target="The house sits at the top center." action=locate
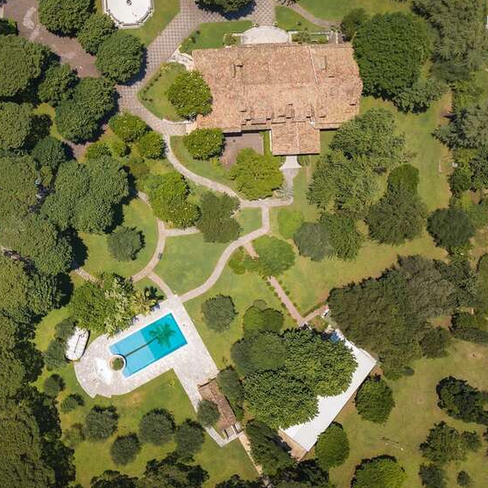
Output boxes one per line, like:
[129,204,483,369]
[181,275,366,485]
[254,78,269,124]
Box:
[189,44,362,154]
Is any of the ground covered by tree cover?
Yes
